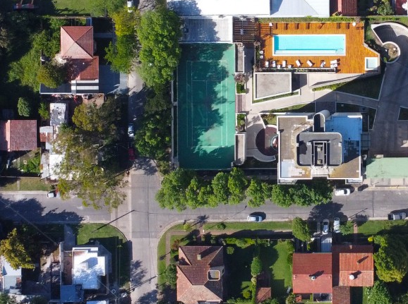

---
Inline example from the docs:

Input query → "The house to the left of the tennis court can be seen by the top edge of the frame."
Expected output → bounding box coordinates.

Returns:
[40,15,101,93]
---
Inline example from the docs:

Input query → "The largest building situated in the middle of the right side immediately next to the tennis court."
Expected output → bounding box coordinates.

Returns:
[277,111,370,184]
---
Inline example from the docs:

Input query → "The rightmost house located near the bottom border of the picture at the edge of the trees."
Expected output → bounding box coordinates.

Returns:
[332,243,374,304]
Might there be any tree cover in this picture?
Yes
